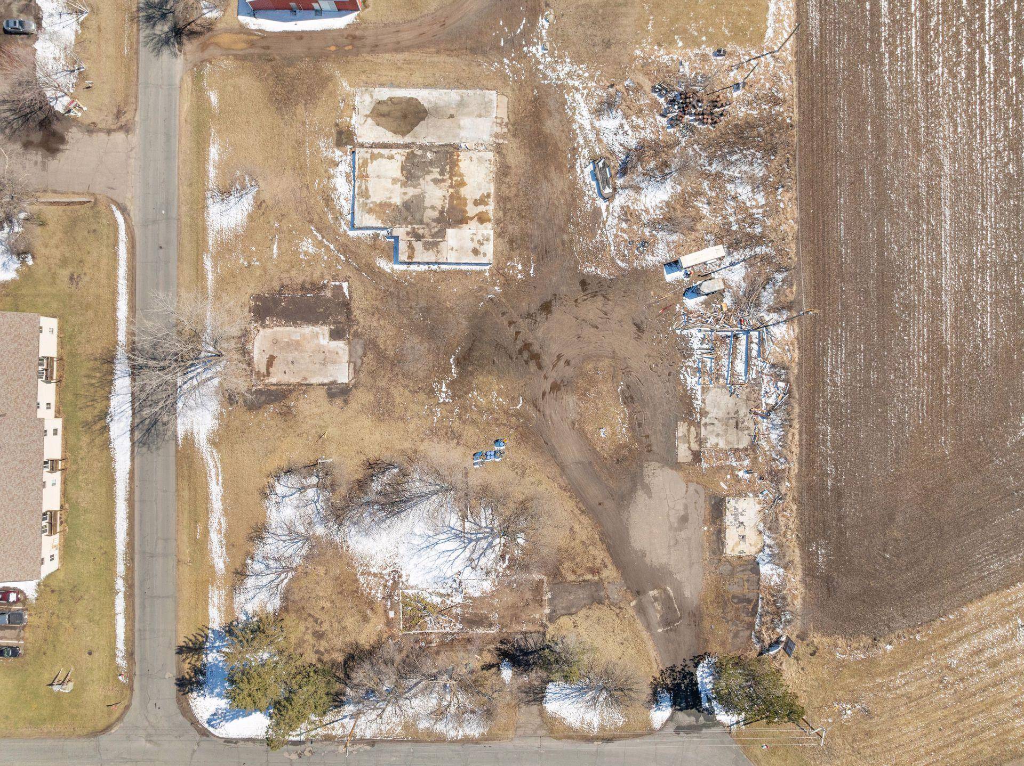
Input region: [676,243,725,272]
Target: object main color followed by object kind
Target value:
white trailer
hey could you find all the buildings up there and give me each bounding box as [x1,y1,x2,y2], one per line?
[0,310,69,585]
[244,0,361,17]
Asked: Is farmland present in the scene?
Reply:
Yes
